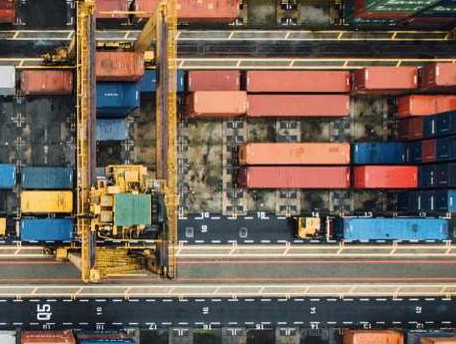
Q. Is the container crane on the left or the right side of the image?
left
